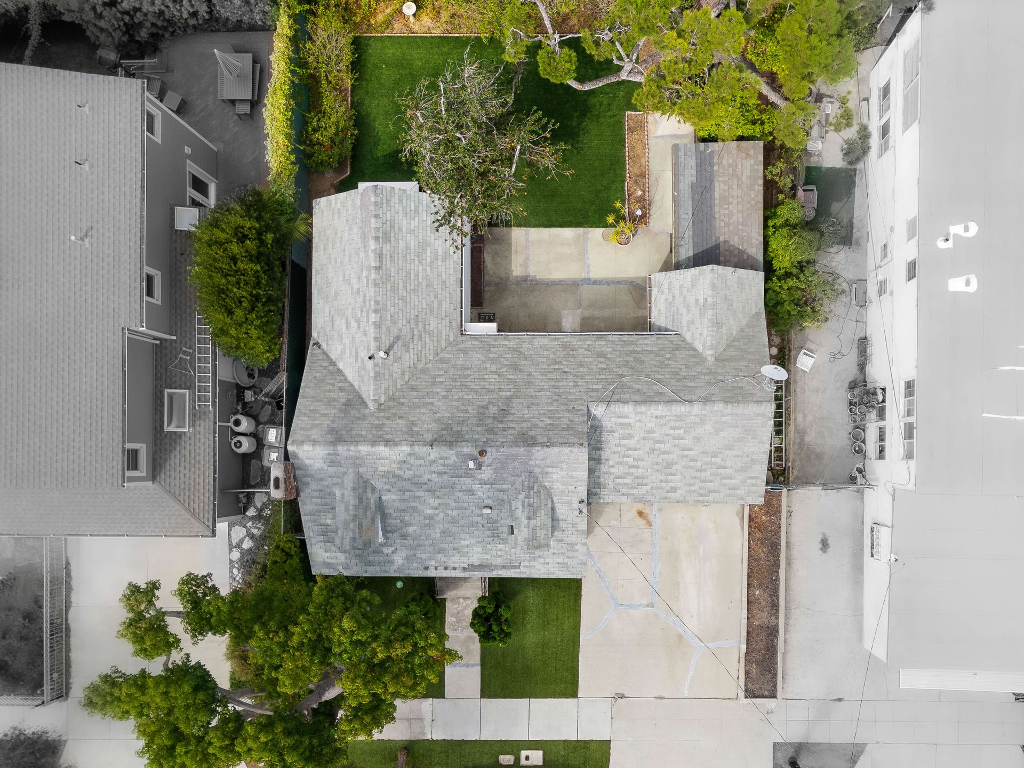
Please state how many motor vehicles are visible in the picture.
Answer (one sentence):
I count no motor vehicles.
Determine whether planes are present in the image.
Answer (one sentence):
No, the picture doesn't show any plane.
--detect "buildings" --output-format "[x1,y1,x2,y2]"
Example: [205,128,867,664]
[286,185,775,577]
[864,1,1024,664]
[0,62,243,539]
